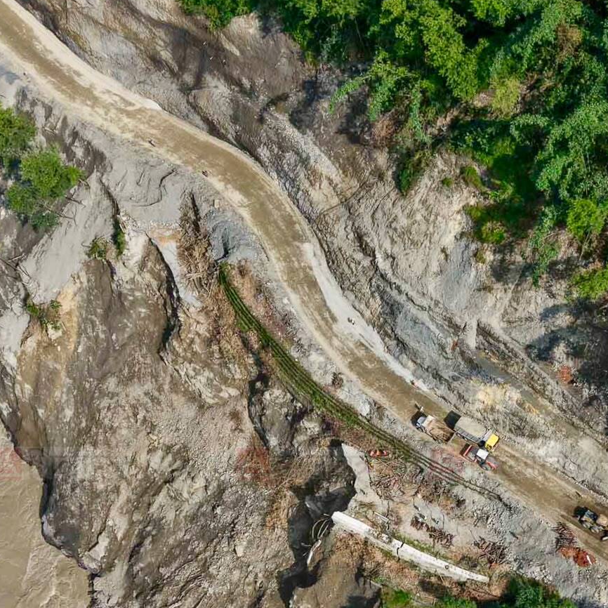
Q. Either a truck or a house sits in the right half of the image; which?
truck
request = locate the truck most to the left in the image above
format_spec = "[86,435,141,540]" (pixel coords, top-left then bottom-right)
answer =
[415,415,459,447]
